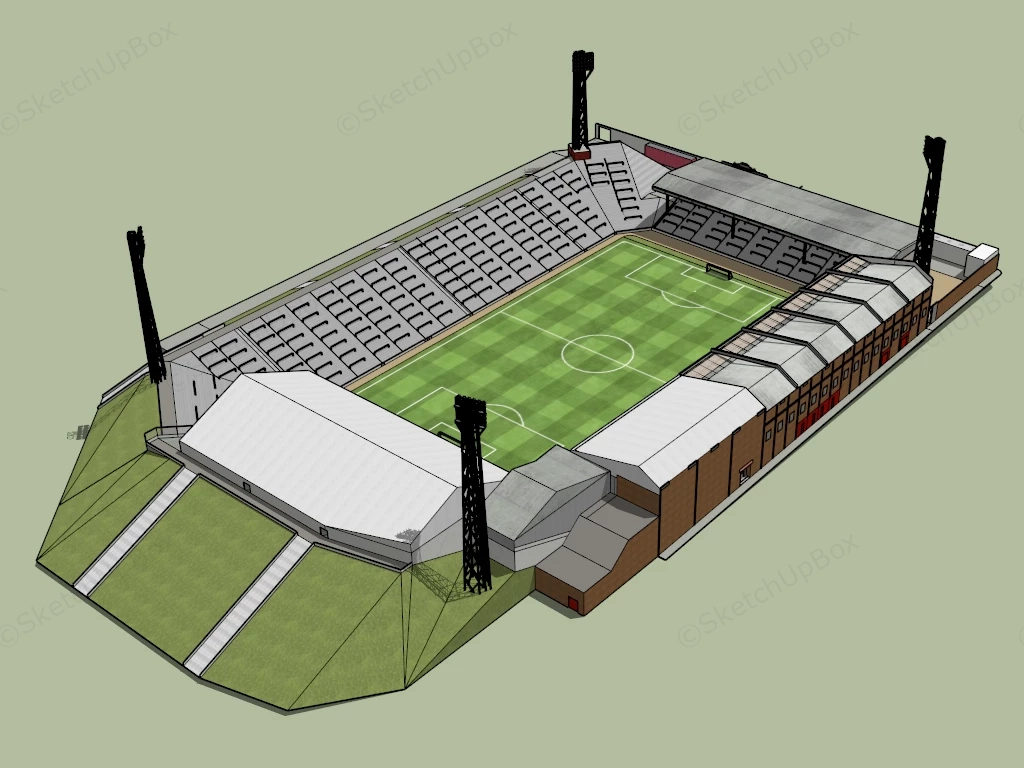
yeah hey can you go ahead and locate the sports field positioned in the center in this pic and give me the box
[353,237,787,471]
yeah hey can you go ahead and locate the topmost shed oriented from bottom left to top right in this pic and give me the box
[964,244,999,278]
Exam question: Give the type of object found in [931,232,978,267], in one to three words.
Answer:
building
